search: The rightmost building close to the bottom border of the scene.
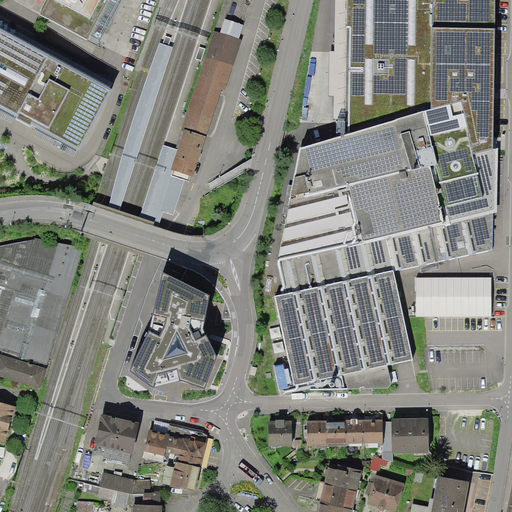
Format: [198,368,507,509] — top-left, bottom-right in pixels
[430,475,470,512]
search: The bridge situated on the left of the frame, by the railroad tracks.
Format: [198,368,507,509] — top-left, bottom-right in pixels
[82,202,208,270]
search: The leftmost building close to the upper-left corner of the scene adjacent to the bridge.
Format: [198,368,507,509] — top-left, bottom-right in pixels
[0,20,115,152]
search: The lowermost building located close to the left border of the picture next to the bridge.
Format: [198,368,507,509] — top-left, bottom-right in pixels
[0,238,82,366]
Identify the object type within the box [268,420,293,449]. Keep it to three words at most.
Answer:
house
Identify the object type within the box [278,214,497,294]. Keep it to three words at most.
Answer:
building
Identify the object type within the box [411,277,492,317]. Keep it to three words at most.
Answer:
building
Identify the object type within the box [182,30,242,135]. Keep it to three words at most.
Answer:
shed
